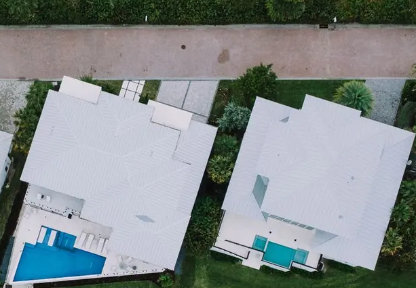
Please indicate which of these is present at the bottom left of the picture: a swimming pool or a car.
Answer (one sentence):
What appears at the bottom left of the picture is a swimming pool.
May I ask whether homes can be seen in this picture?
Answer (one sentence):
Yes, a home is visible in the scene.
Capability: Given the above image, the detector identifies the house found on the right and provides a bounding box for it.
[223,94,413,270]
